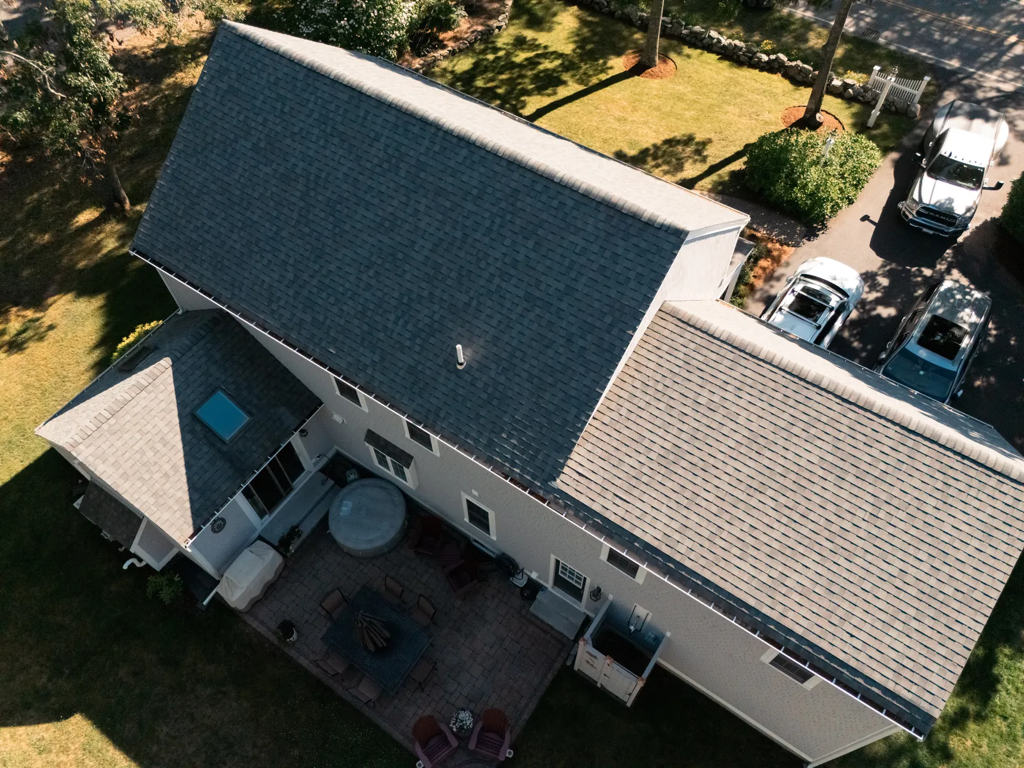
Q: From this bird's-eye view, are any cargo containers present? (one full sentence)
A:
No, no cargo container can be seen from above.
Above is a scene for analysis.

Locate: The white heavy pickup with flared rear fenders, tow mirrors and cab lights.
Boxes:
[896,95,1009,242]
